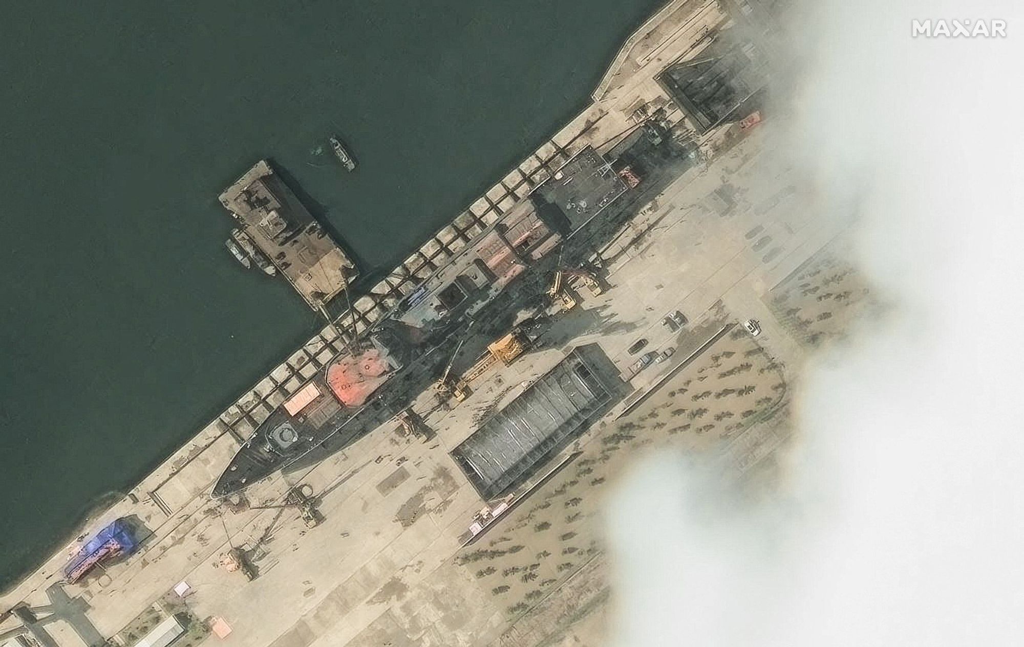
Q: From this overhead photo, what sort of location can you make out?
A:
port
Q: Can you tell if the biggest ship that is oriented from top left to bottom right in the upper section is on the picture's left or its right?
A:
left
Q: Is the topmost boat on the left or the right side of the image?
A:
left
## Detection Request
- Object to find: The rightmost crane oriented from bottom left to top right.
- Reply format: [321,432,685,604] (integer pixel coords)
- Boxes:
[457,333,531,391]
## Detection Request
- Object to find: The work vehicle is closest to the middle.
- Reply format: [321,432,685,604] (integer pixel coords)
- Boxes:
[556,284,578,311]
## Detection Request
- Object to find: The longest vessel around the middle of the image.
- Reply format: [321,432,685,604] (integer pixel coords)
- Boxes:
[211,144,627,498]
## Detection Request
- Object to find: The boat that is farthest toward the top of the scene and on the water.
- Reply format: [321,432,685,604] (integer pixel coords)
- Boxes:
[329,135,356,170]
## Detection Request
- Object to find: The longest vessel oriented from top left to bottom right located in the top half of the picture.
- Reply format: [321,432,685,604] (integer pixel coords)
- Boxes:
[218,159,360,357]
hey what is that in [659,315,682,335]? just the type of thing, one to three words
vehicle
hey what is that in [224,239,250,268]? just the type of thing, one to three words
boat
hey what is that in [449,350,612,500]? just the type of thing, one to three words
building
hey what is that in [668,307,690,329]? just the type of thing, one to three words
truck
